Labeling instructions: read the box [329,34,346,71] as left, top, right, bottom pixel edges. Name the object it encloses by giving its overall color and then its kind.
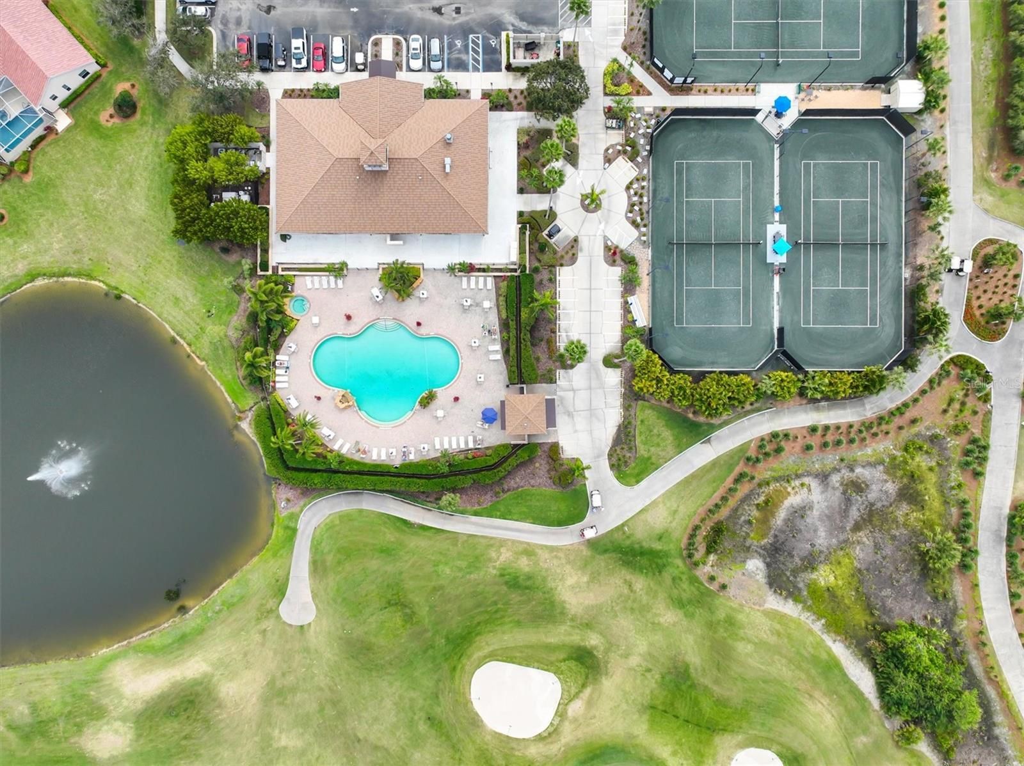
white car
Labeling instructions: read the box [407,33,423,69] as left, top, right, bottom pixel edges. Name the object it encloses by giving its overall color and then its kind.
white car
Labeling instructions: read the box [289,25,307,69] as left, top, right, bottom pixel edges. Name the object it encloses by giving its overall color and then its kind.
white vehicle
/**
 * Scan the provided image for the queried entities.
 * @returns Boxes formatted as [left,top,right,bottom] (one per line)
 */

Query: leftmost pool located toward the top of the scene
[0,104,45,156]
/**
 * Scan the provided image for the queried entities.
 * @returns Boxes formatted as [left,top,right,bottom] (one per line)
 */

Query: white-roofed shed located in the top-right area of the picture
[881,81,926,113]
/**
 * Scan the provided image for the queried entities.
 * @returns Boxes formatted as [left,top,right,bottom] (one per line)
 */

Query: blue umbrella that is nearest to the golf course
[482,408,497,423]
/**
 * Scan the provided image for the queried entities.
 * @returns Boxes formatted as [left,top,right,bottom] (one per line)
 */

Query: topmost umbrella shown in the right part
[773,97,789,114]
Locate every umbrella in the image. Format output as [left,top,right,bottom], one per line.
[771,236,791,256]
[482,408,497,423]
[773,97,789,114]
